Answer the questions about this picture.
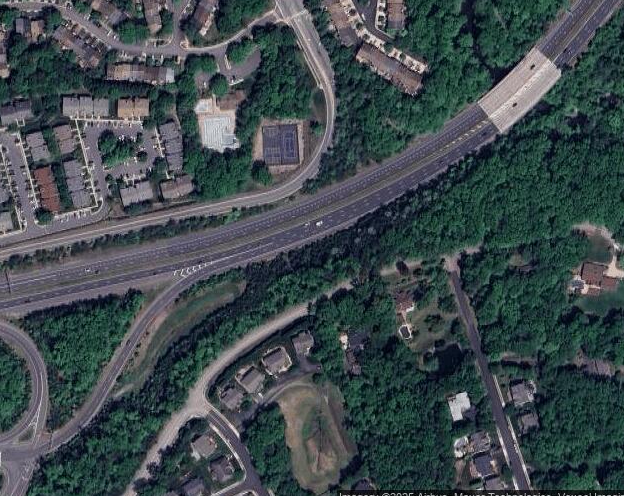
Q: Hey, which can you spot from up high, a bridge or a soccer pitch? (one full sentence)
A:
There is a bridge in the scene.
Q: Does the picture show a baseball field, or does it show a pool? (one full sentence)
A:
This aerial view contains a pool.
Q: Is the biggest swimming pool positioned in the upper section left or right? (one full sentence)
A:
You can find the biggest swimming pool positioned in the upper section on the left side of the picture.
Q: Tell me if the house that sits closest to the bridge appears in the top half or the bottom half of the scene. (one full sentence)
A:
The house that sits closest to the bridge sits in the top half of the picture.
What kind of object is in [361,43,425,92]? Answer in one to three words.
house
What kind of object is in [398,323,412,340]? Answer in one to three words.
swimming pool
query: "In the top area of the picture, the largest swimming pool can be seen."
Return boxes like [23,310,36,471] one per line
[196,99,240,151]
